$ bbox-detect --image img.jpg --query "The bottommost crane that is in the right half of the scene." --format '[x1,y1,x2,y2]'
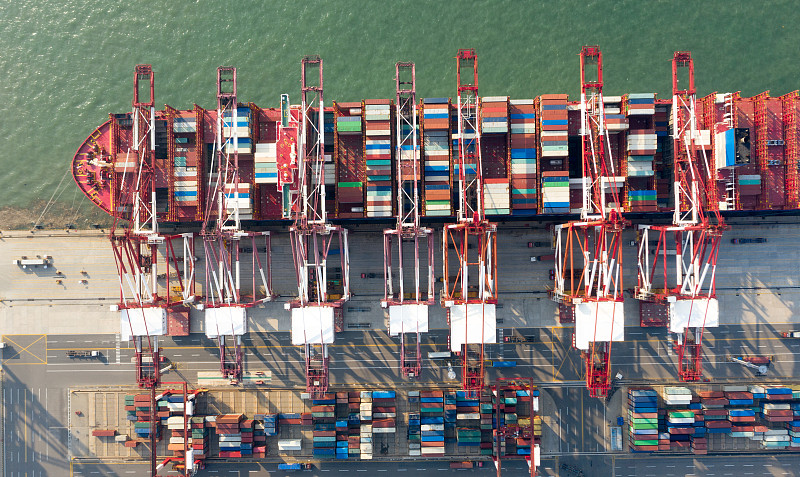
[484,379,540,477]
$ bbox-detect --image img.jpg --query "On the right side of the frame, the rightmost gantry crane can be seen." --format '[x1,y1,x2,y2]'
[617,48,727,386]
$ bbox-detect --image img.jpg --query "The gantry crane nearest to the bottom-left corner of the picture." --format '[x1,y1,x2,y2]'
[151,380,217,477]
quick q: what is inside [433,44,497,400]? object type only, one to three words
container crane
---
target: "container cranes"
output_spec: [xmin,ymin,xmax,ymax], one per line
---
[433,44,497,400]
[617,48,727,386]
[378,58,434,383]
[284,51,357,401]
[107,60,216,393]
[484,379,540,477]
[536,41,625,404]
[193,62,285,390]
[151,380,217,477]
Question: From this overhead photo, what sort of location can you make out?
port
